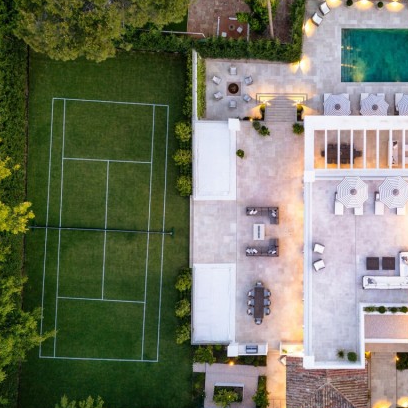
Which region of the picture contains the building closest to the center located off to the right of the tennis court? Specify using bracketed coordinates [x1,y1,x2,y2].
[192,122,239,201]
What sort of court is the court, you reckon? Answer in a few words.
tennis court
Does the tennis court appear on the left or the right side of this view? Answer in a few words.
left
